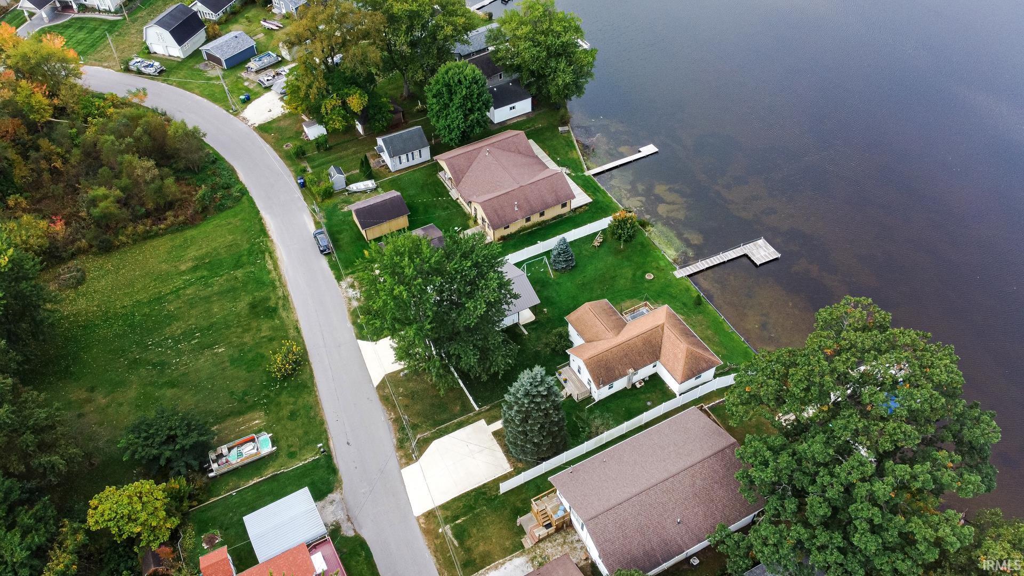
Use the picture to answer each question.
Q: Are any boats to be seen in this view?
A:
Yes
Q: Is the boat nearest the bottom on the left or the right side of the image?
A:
left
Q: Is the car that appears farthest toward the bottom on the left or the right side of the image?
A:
left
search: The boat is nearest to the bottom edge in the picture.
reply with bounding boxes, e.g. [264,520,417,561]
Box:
[202,436,276,479]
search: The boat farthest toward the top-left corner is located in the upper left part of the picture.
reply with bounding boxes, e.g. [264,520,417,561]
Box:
[127,52,163,70]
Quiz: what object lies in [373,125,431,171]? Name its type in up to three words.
house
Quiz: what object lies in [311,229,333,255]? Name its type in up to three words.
car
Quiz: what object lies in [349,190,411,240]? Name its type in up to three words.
shed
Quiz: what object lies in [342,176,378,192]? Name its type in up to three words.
boat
